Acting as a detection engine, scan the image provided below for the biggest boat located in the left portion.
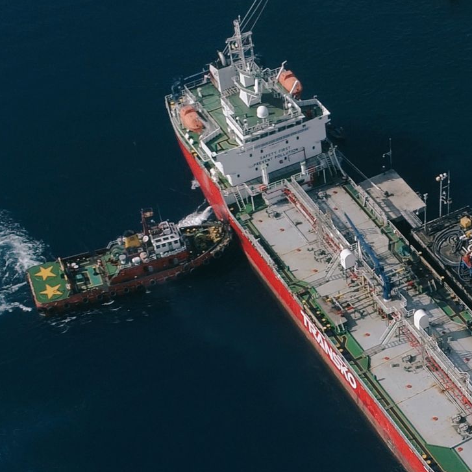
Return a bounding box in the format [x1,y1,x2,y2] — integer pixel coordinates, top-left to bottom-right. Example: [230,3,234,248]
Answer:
[25,196,239,316]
